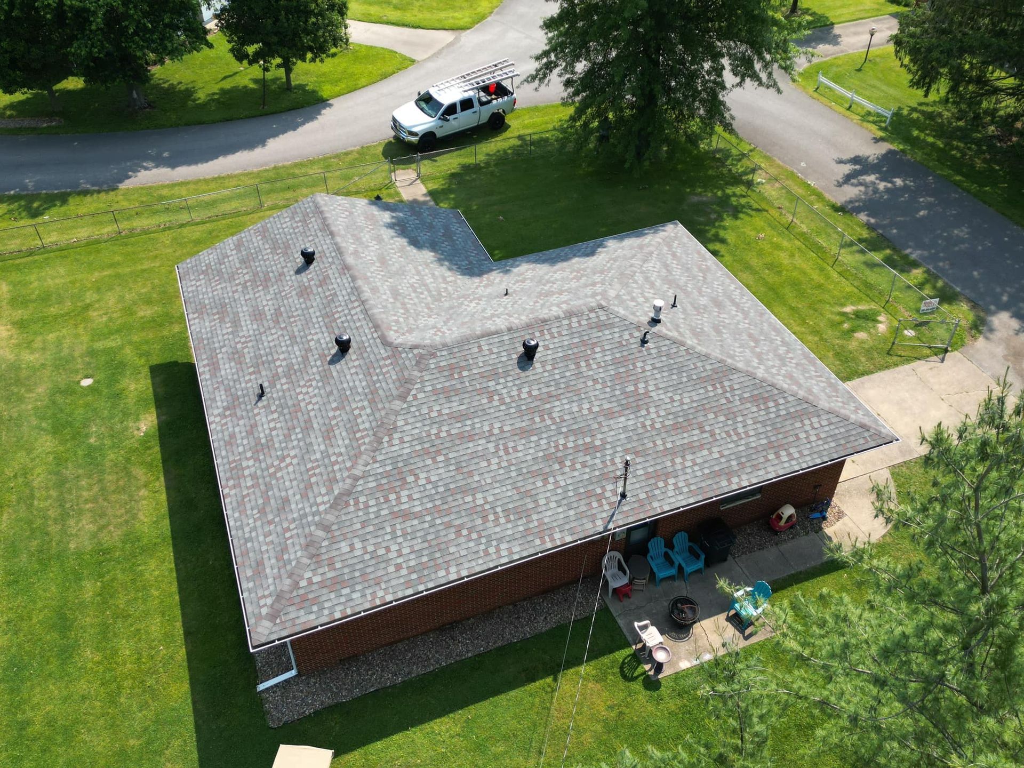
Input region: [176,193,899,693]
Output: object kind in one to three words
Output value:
house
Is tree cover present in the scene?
Yes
